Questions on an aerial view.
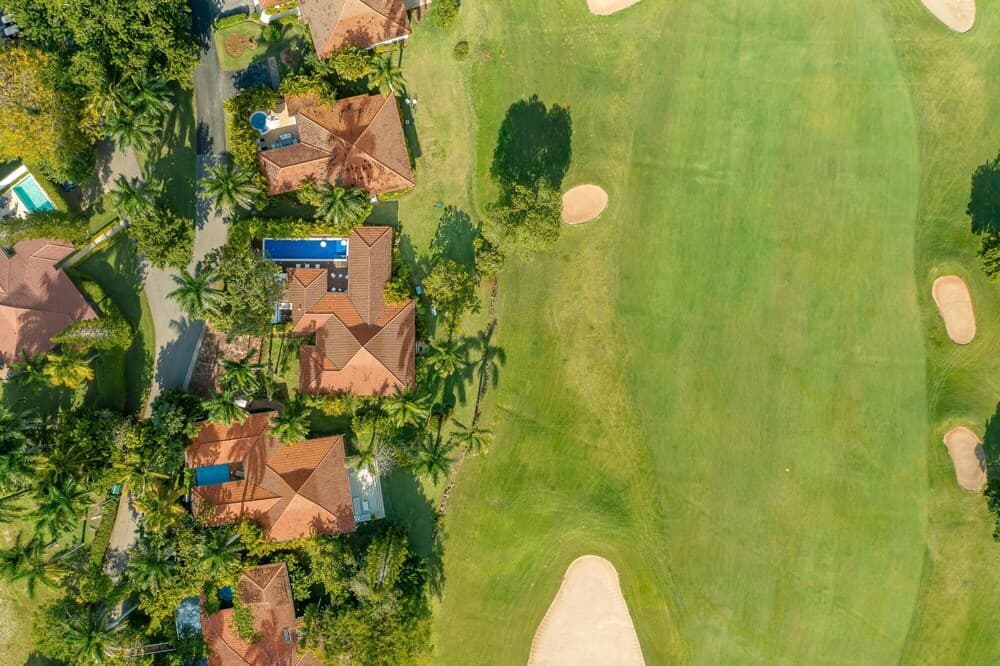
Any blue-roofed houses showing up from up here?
No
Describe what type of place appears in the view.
golf course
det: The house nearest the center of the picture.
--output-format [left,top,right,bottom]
[261,227,415,395]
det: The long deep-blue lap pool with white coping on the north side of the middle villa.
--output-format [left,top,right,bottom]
[264,238,348,261]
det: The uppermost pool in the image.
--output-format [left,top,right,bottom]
[250,111,269,133]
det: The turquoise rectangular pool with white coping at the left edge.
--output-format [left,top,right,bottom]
[10,172,57,226]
